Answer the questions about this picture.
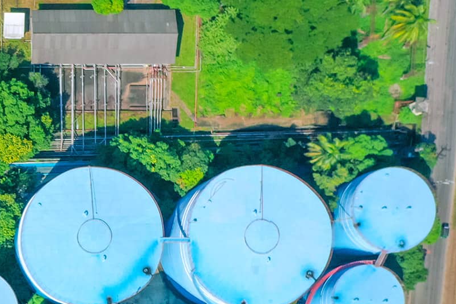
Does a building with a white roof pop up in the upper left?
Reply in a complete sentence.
Yes, the scene does show a building with a white roof in the upper left.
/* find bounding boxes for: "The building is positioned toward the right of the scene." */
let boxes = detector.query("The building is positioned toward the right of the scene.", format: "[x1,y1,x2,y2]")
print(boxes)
[404,99,430,118]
